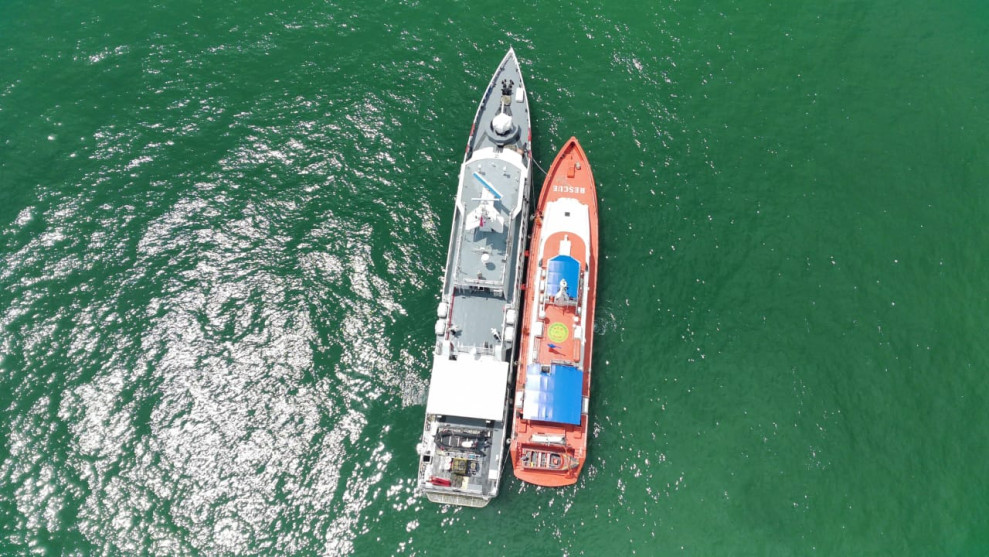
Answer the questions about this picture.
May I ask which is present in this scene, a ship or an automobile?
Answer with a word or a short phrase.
ship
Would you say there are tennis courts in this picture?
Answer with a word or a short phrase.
No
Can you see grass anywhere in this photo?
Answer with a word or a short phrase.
No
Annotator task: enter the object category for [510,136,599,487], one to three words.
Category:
ship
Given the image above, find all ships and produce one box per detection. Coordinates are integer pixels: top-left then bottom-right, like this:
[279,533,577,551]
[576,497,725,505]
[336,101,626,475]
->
[416,44,530,509]
[510,136,599,487]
